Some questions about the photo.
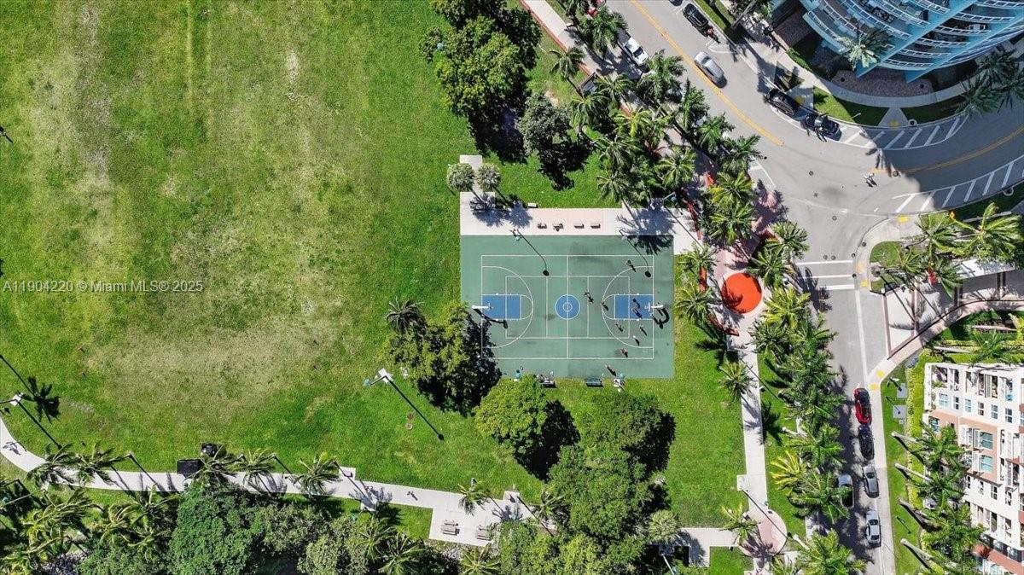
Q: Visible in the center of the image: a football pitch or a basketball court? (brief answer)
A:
basketball court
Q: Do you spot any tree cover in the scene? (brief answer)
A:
Yes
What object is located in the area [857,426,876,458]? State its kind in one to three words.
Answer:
car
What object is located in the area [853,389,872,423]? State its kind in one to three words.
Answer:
car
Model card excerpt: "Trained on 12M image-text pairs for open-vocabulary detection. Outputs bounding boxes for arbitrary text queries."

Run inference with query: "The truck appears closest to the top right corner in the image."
[803,113,842,140]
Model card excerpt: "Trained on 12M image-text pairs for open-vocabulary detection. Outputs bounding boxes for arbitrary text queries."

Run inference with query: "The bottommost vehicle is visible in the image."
[864,511,882,545]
